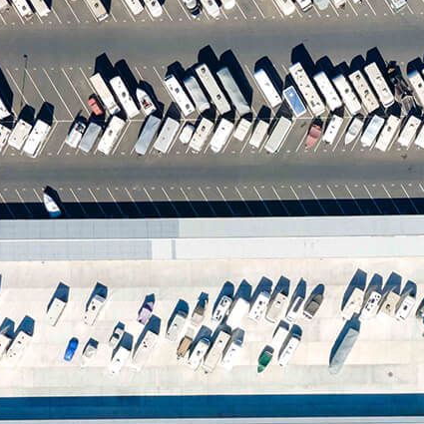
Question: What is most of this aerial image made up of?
paved ground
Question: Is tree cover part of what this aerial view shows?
No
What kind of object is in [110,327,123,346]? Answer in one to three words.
boat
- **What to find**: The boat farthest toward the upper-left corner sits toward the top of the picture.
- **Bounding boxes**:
[67,120,82,148]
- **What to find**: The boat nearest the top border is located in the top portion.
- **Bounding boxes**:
[139,88,155,114]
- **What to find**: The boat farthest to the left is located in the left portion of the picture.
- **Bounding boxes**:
[44,196,59,217]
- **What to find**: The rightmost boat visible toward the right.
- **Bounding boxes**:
[347,116,363,144]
